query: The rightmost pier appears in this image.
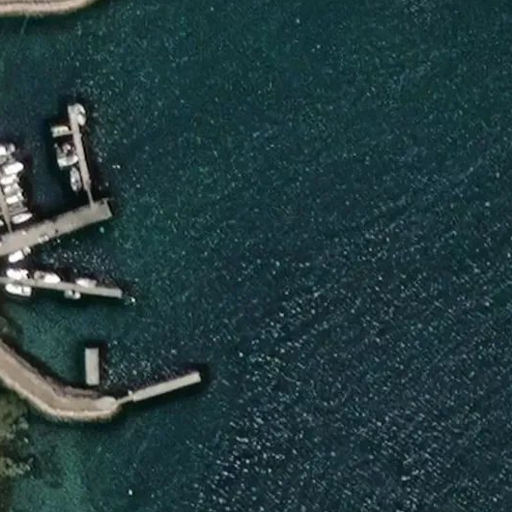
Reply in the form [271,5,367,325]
[133,372,200,401]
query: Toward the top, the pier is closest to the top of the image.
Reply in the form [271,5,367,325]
[52,105,91,188]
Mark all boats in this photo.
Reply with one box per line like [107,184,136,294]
[62,290,80,299]
[50,127,69,137]
[9,245,31,261]
[0,173,19,185]
[56,155,78,167]
[5,193,25,204]
[10,213,34,224]
[0,154,16,164]
[7,268,31,280]
[1,184,23,194]
[7,203,27,214]
[32,270,61,283]
[6,283,34,296]
[54,143,74,153]
[76,106,89,128]
[1,163,24,176]
[0,144,16,155]
[69,164,82,190]
[76,278,99,287]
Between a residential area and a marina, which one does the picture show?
marina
